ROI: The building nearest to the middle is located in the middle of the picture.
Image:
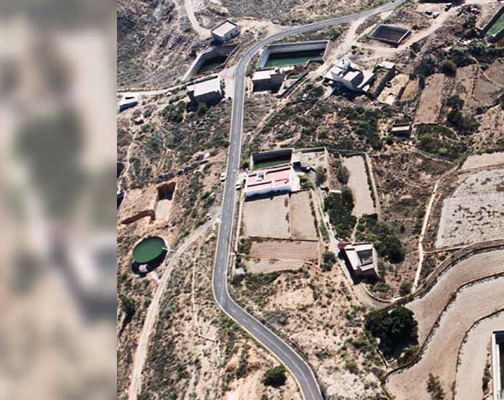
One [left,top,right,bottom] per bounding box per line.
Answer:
[244,166,299,203]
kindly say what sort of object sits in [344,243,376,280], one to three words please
house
